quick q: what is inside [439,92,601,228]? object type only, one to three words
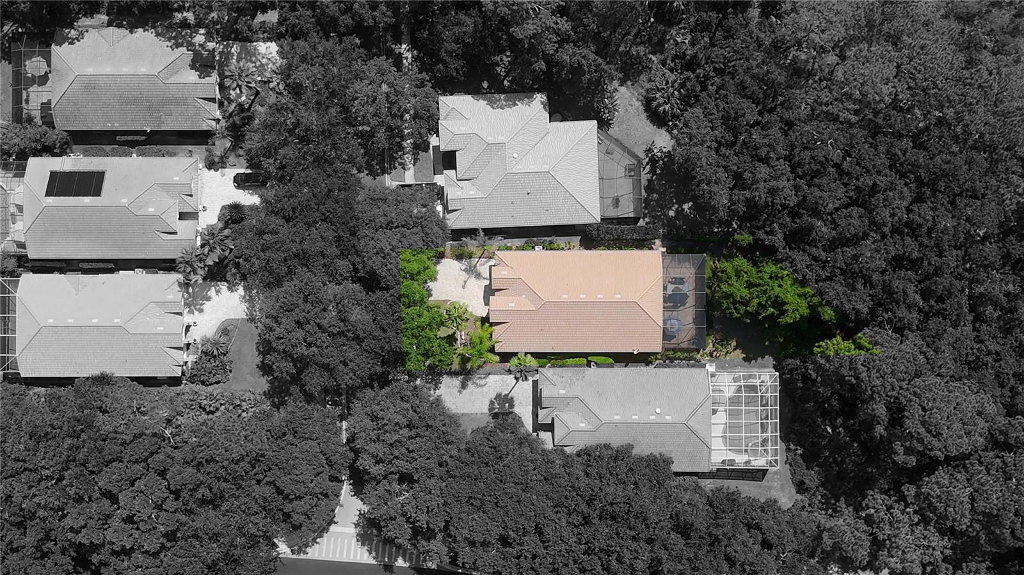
house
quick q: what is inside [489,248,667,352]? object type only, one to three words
house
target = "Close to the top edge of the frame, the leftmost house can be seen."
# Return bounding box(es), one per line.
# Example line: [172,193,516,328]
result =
[47,25,227,131]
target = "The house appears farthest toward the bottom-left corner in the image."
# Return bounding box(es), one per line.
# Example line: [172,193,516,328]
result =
[11,273,194,377]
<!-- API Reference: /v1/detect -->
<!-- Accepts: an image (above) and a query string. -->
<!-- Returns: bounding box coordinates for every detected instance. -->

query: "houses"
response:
[20,157,205,260]
[538,362,716,473]
[47,25,227,131]
[439,92,601,228]
[489,248,667,352]
[11,273,194,377]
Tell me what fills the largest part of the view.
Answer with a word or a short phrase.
trees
